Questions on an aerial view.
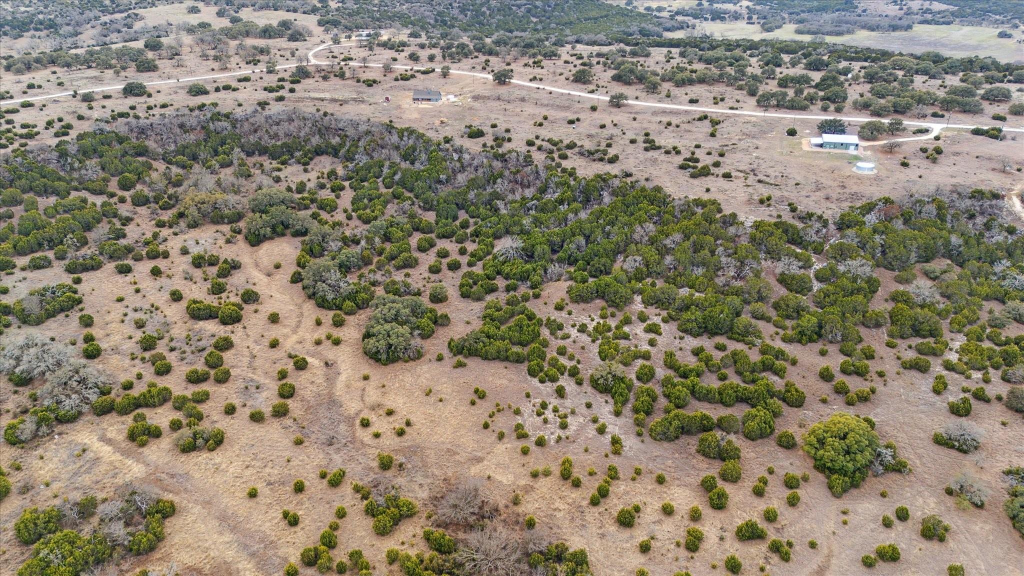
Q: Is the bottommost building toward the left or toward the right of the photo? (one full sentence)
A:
You can find the bottommost building on the right side of the picture.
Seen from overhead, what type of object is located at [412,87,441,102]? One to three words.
house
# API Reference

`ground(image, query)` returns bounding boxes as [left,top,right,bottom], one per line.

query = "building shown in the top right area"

[807,130,862,153]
